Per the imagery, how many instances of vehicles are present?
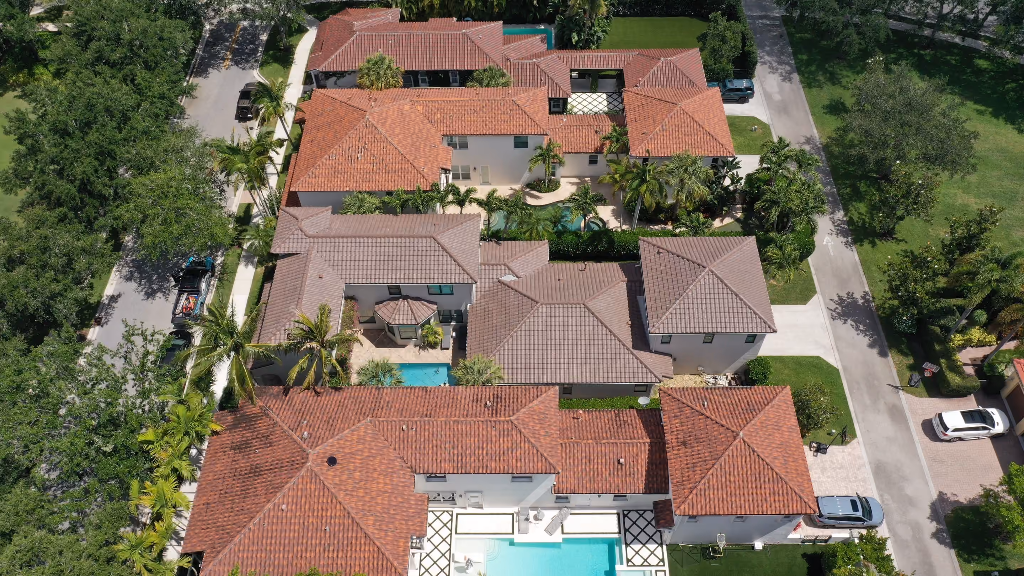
6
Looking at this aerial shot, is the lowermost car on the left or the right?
right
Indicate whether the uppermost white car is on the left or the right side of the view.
right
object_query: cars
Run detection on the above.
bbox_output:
[937,404,1011,441]
[708,77,757,103]
[809,492,885,528]
[234,83,263,115]
[156,331,189,382]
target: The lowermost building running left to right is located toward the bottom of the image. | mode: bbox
[182,385,819,576]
